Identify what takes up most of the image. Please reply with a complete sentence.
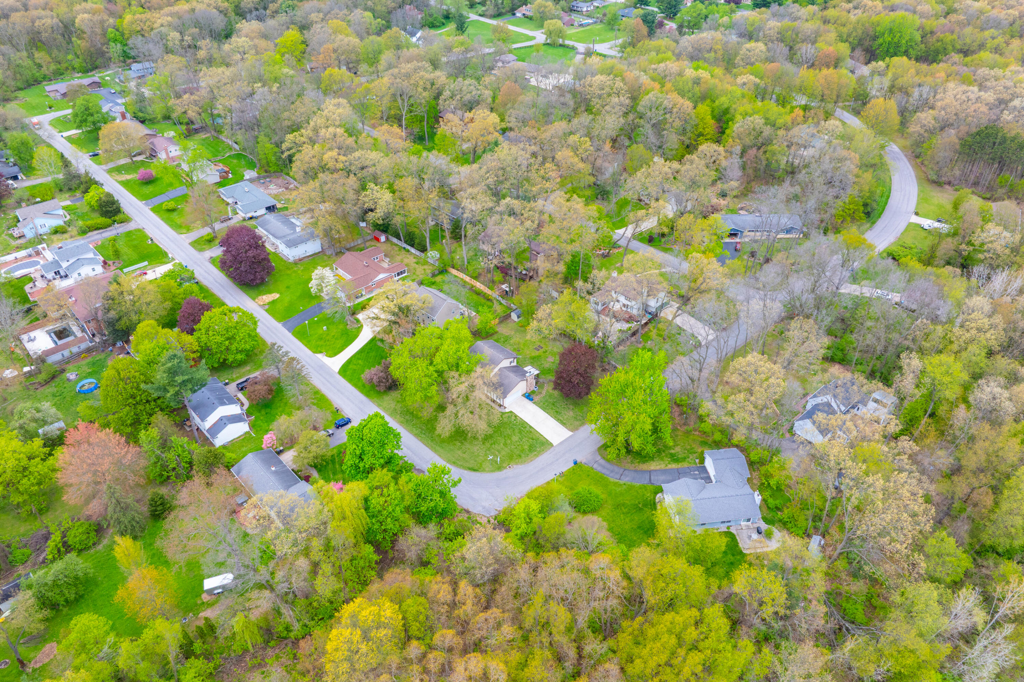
The scene is dominated by trees.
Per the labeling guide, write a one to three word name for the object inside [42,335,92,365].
building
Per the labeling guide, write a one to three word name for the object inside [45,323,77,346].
swimming pool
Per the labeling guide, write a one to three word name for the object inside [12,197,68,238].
house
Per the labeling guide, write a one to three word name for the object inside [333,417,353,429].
vehicle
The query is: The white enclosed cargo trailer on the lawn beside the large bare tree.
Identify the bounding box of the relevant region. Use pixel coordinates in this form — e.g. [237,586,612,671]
[200,575,246,600]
